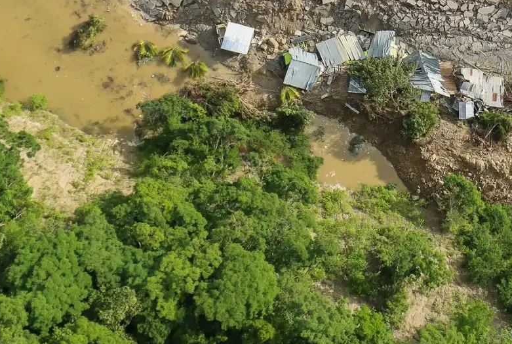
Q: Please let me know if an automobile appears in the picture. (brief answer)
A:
No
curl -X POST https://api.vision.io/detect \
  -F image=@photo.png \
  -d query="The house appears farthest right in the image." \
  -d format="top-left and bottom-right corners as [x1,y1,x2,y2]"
[458,68,504,110]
